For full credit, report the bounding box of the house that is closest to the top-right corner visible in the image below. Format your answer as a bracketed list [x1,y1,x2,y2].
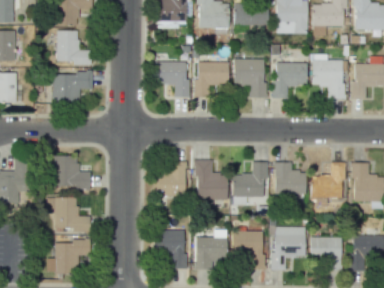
[350,0,384,31]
